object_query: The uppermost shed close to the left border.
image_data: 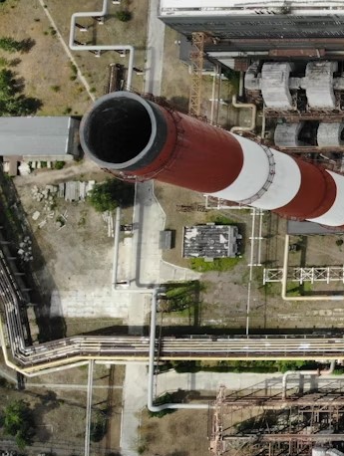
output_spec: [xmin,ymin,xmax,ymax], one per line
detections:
[0,116,84,159]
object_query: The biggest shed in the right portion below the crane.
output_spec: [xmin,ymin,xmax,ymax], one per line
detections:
[183,224,243,259]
